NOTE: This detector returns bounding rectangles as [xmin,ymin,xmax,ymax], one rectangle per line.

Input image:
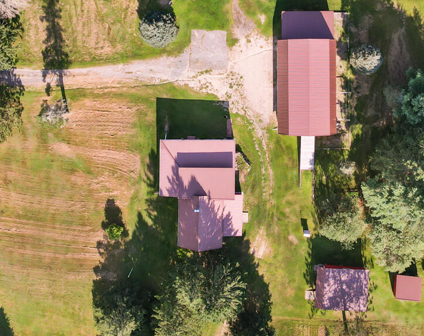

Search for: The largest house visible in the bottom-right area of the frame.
[305,261,369,311]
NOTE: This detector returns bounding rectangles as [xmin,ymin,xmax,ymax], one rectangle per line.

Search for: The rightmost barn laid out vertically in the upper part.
[277,11,337,137]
